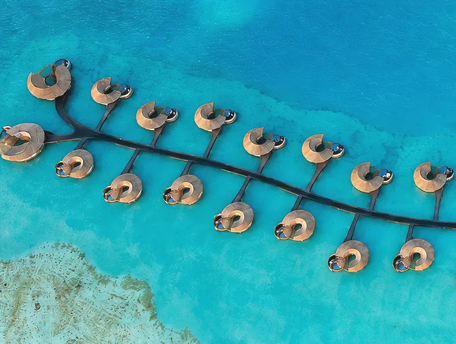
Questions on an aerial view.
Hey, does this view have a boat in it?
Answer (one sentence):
No, this view has no boat in it.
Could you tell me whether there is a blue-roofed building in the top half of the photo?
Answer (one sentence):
No, in the top half of the photo there is no blue-roofed building.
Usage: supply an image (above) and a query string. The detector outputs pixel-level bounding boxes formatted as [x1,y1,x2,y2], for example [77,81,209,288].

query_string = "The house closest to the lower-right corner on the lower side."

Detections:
[393,240,436,271]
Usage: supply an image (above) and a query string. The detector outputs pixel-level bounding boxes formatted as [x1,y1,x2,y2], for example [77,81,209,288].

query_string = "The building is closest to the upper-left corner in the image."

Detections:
[25,57,73,98]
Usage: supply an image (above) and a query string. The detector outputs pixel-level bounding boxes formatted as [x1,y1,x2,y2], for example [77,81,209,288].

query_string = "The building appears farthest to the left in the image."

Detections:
[0,123,47,162]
